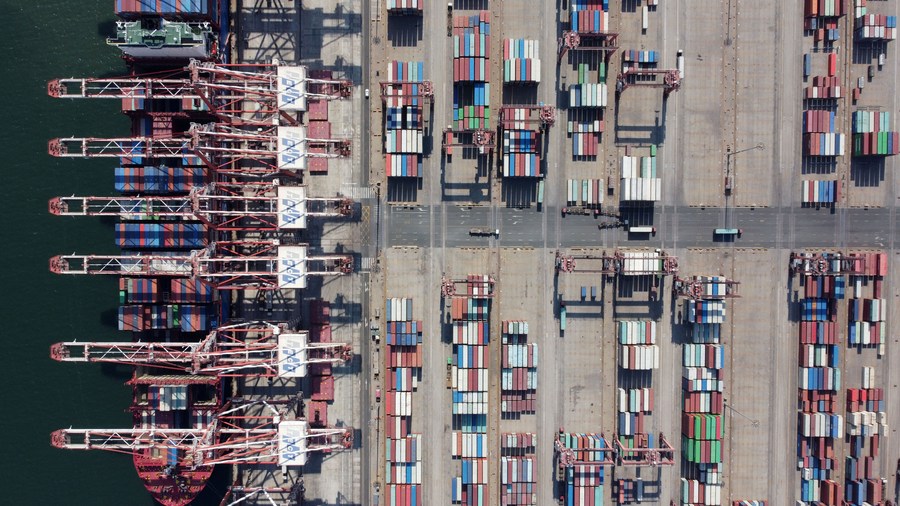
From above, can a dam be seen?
No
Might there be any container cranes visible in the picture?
Yes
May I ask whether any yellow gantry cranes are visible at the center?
No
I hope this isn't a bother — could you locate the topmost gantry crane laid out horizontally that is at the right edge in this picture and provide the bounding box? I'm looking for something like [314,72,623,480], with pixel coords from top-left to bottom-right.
[793,252,865,277]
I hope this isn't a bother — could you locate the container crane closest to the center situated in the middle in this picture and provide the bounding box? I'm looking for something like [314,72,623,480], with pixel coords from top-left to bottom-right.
[441,274,495,299]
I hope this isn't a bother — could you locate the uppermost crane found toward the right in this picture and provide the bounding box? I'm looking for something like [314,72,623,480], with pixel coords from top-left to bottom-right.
[560,31,619,65]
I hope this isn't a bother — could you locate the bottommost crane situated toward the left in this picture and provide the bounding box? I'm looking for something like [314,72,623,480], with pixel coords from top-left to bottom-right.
[211,477,299,506]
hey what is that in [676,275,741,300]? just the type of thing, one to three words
container crane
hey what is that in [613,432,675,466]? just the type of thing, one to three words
container crane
